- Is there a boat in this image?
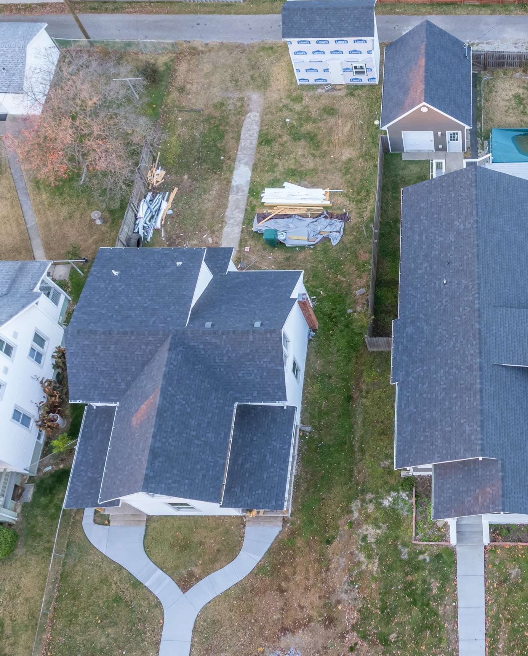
No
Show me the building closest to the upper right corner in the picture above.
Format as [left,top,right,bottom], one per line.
[379,19,473,153]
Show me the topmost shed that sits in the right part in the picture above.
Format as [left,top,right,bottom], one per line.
[281,0,381,85]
